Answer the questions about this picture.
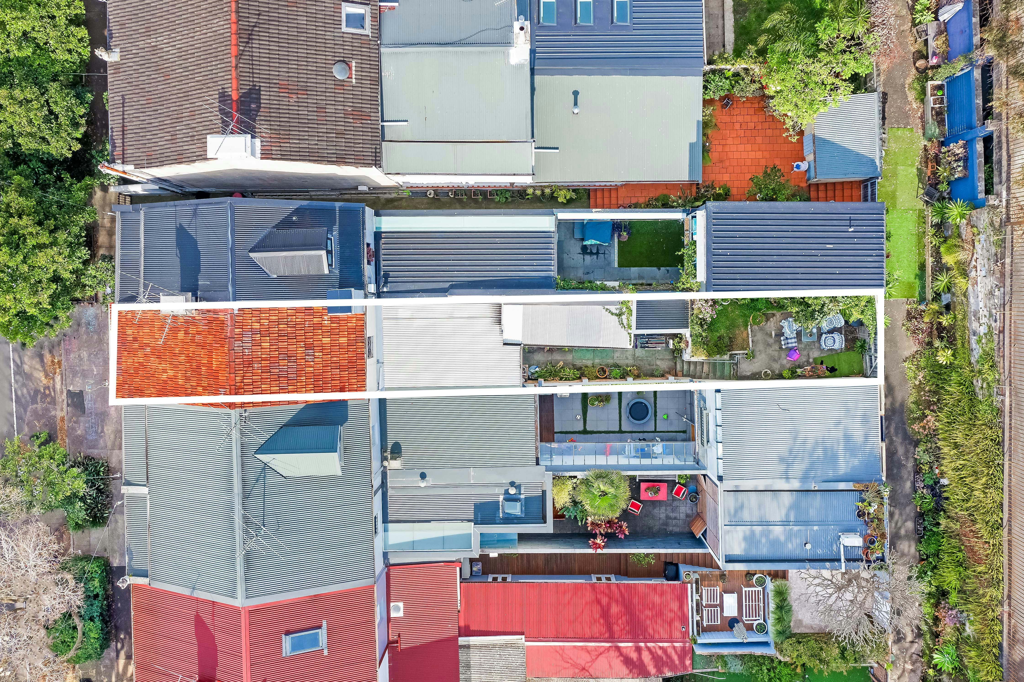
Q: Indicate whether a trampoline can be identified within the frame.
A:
Yes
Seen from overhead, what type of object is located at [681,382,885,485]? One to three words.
building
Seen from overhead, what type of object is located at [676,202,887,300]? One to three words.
building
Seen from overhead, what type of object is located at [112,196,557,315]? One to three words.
house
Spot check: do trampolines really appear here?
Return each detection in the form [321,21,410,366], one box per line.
[626,399,651,423]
